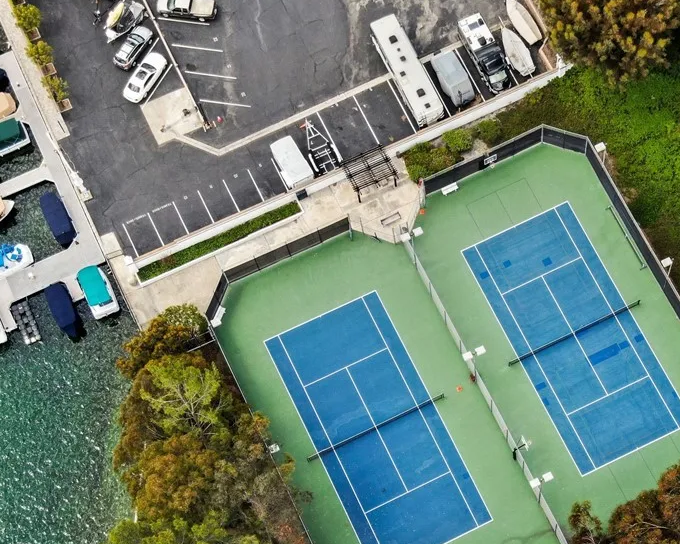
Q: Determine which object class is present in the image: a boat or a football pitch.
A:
boat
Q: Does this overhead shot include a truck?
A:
Yes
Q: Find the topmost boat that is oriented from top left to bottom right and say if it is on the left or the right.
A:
right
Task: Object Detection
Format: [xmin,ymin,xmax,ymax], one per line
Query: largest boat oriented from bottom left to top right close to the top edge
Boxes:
[105,3,150,47]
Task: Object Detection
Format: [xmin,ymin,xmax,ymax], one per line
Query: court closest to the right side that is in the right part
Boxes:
[409,144,680,544]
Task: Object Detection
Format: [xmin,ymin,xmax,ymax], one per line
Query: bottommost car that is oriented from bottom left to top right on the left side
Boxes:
[122,55,169,103]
